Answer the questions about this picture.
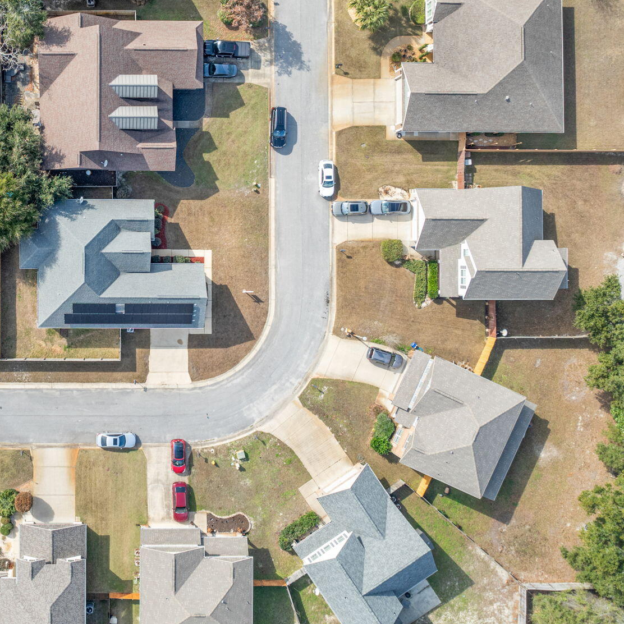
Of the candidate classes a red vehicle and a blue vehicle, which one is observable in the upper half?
blue vehicle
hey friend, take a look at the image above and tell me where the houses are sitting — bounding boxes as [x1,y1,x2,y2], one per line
[0,516,86,624]
[293,462,438,624]
[19,199,208,329]
[409,185,568,301]
[140,523,254,624]
[387,349,538,501]
[37,12,203,172]
[396,0,565,134]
